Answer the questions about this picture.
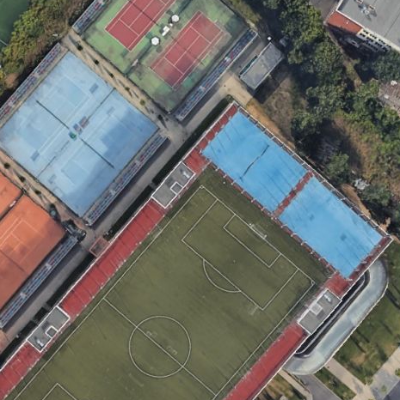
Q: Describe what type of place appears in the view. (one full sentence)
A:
This looks like a sports ground.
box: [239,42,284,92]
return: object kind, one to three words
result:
shed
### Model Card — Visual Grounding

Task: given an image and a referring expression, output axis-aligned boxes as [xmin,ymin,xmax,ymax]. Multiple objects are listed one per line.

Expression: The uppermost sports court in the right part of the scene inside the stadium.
[201,111,307,212]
